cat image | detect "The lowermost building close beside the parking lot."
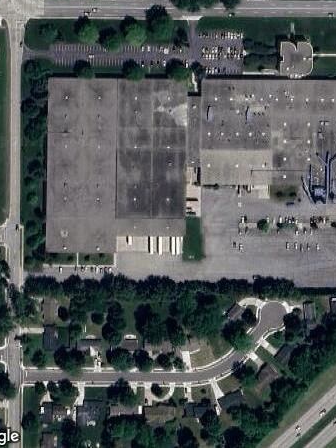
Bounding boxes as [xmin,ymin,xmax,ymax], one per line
[46,78,336,253]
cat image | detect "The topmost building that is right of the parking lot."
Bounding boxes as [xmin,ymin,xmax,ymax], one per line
[279,42,314,77]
